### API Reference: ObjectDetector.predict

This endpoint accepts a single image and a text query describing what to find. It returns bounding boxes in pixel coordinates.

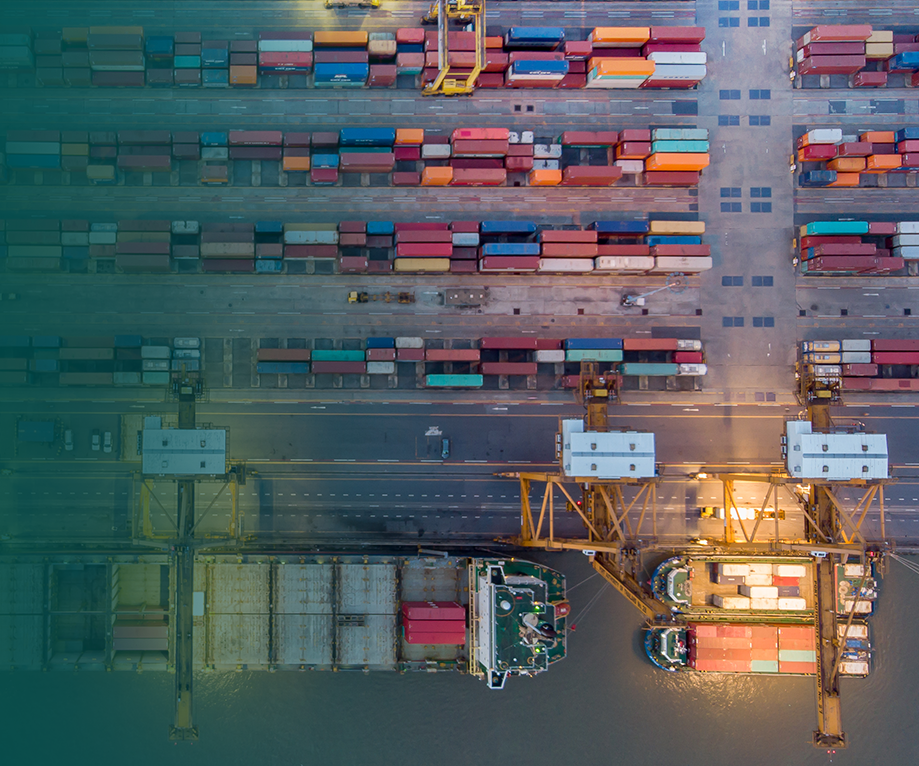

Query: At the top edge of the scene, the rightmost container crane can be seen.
[422,0,490,95]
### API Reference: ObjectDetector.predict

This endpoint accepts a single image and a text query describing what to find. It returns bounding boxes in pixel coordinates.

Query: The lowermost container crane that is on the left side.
[121,341,267,751]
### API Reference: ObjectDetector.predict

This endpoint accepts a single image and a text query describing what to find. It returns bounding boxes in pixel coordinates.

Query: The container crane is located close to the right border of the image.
[683,344,895,753]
